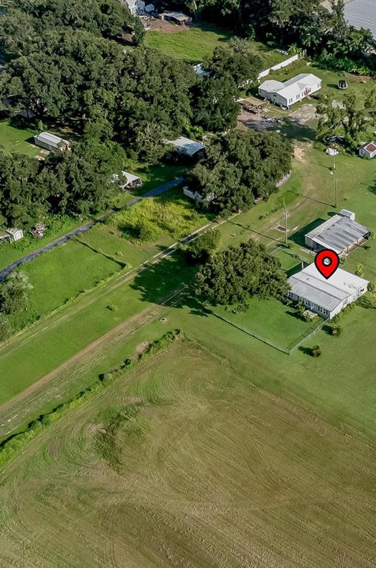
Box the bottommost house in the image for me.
[278,254,372,318]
